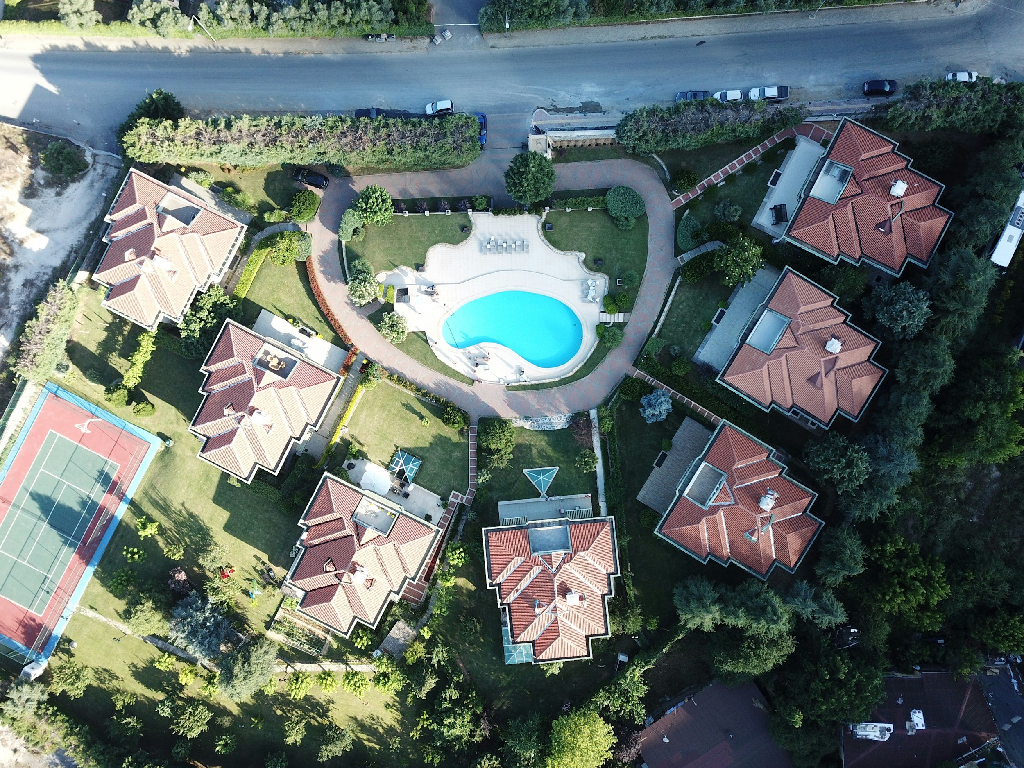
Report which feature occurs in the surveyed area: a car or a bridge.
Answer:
car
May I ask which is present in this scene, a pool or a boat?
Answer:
pool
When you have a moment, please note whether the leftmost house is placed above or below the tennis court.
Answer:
above it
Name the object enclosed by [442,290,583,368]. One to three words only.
swimming pool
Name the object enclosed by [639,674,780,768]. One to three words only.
shed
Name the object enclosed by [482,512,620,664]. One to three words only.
house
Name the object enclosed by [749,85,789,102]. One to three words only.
vehicle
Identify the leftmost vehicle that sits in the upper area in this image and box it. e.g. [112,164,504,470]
[294,166,329,192]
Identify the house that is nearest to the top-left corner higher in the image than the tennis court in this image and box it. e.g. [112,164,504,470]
[94,168,250,332]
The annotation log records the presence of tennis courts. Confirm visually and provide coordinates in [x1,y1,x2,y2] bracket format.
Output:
[0,380,162,660]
